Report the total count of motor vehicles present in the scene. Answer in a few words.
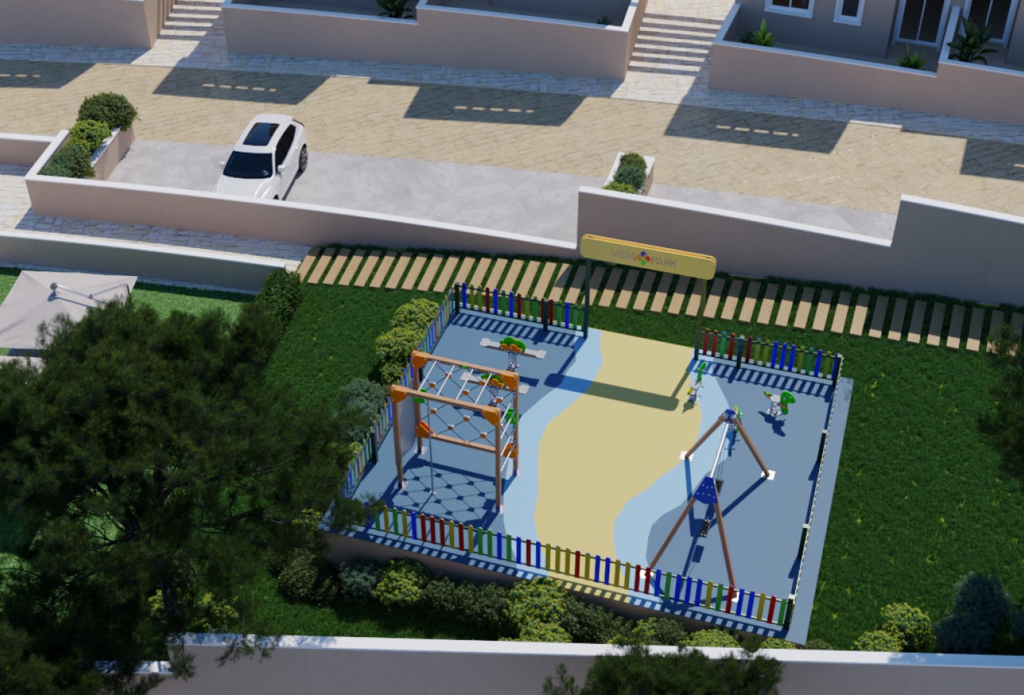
1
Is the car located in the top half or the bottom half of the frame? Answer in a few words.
top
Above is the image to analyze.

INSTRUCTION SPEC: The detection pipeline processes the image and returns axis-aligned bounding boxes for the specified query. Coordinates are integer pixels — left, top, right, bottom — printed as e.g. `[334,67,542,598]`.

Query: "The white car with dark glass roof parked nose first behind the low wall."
[211,116,311,206]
